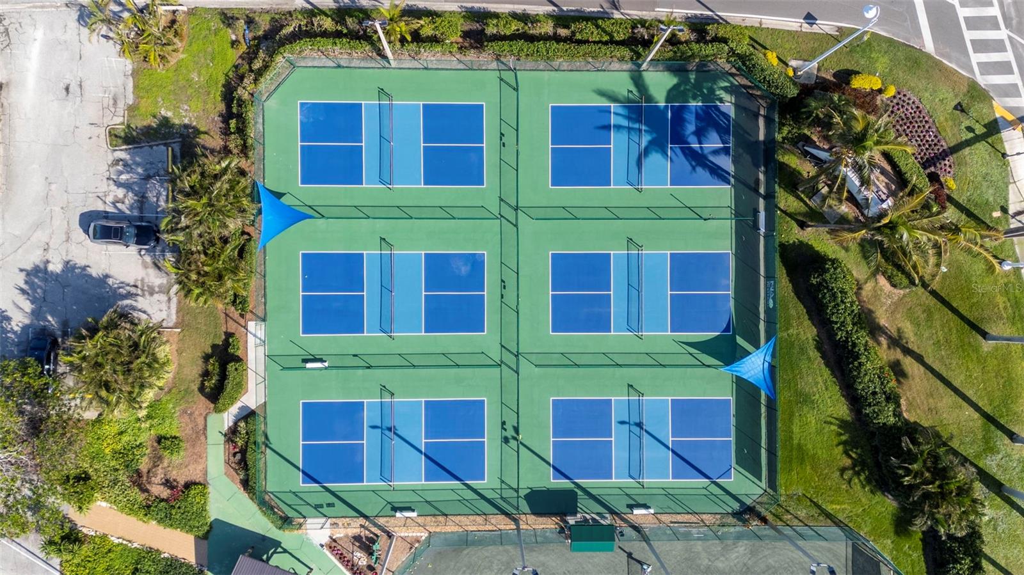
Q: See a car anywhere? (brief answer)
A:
Yes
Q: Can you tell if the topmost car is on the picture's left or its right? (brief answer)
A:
left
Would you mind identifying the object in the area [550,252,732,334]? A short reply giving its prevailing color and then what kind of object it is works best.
blue sports court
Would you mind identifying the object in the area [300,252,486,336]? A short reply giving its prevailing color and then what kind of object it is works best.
blue sports court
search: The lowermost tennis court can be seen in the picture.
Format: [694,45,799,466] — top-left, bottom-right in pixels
[392,529,895,575]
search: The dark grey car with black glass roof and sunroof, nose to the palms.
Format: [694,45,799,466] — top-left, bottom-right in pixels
[82,218,157,249]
